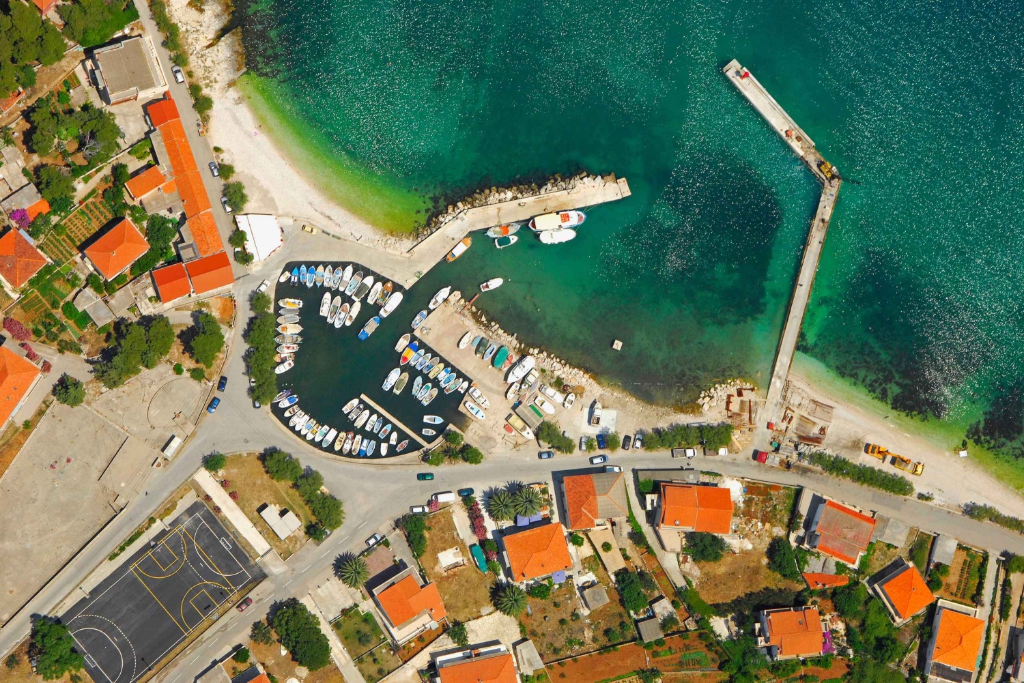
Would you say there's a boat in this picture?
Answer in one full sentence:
Yes, looking at the shot, I can spot a boat.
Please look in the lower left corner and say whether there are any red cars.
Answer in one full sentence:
Yes, a red car shows up in the lower left corner.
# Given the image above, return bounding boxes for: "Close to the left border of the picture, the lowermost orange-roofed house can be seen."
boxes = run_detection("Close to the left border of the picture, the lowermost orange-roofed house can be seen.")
[0,344,49,435]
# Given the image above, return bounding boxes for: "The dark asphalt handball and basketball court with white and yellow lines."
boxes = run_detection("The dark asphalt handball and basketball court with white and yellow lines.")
[60,500,266,683]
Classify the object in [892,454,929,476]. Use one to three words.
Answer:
truck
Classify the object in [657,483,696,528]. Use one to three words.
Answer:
house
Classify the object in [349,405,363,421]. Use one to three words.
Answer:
boat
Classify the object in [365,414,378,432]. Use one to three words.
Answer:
boat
